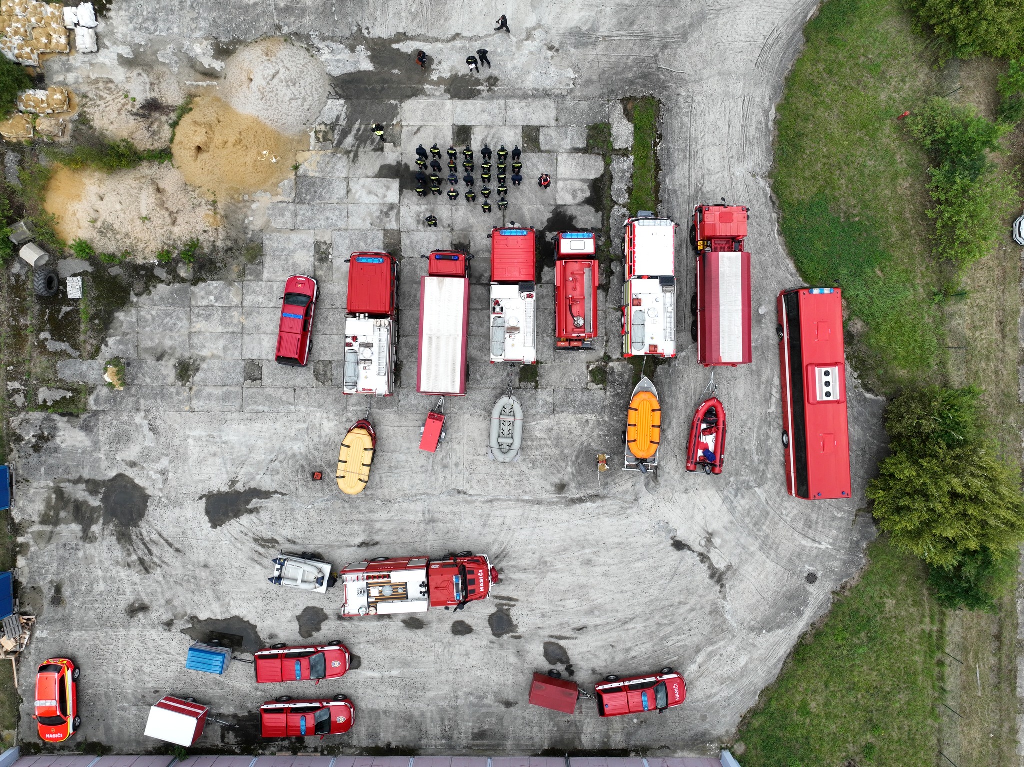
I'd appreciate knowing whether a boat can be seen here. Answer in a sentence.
Yes, looking at the shot, I can spot a boat.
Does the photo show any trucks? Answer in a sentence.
Yes, looking at the shot, I can spot a truck.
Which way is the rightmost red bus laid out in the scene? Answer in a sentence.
In this picture, the rightmost red bus lies from top to bottom.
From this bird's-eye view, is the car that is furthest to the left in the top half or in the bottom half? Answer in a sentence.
The car that is furthest to the left is in the bottom half of the image.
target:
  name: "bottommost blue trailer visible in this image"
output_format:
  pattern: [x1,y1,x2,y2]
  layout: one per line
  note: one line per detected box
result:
[186,638,256,674]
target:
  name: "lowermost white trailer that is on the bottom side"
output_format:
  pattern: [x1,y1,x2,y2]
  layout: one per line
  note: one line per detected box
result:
[144,692,234,747]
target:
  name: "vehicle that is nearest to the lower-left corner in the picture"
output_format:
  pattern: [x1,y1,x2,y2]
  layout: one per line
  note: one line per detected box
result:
[34,654,83,738]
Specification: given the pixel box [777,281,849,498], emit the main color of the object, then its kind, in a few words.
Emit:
red bus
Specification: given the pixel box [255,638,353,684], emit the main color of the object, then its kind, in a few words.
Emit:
red truck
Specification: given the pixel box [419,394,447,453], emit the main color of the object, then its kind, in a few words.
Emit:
red trailer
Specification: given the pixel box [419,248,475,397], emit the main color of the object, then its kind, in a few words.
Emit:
white truck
